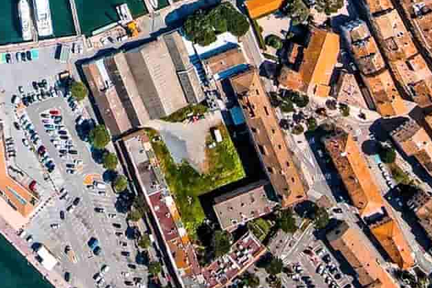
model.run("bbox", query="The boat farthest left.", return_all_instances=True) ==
[19,0,32,41]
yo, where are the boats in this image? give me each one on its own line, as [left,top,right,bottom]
[33,0,53,39]
[19,0,32,41]
[118,3,131,24]
[151,0,159,8]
